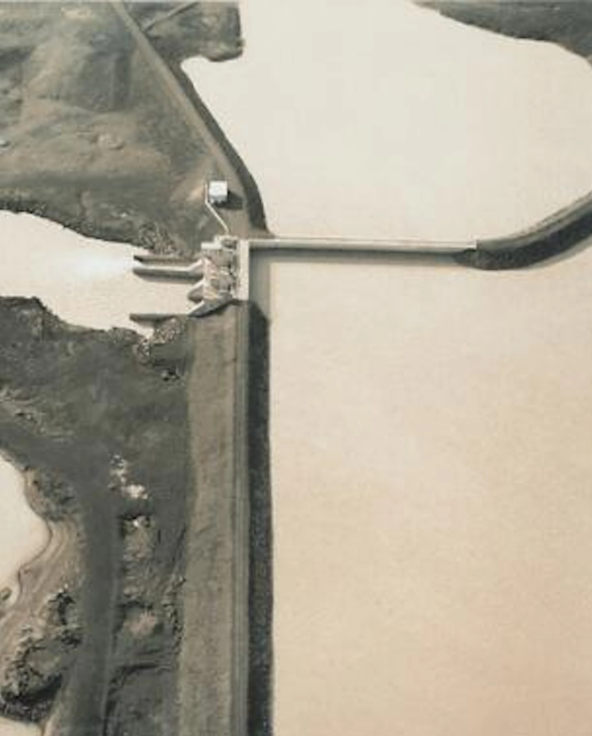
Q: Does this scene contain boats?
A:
No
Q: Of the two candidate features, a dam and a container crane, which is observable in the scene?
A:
dam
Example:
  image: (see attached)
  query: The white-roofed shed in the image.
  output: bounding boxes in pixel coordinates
[207,186,229,207]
